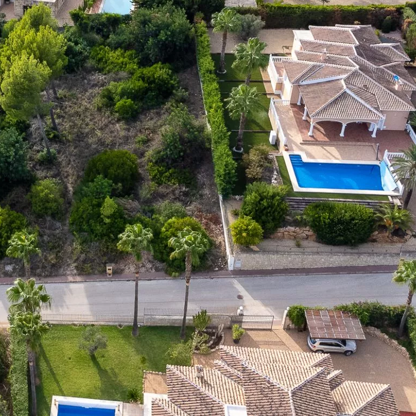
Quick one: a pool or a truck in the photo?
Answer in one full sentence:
It is a pool that can be seen here.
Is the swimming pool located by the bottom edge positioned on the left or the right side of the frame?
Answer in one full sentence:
The swimming pool located by the bottom edge is on the left side of the image.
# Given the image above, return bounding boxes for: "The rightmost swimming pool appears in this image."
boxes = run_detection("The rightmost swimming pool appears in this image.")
[283,151,402,193]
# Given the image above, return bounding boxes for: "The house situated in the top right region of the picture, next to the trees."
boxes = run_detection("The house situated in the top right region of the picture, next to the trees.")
[282,22,416,137]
